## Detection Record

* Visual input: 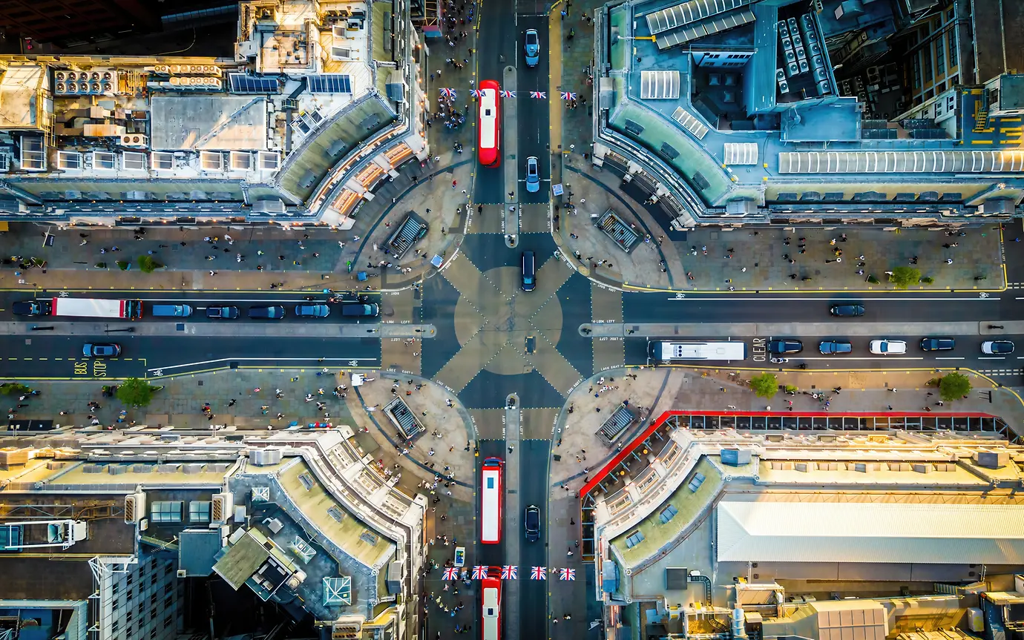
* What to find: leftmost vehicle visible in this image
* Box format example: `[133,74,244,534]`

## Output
[16,300,53,317]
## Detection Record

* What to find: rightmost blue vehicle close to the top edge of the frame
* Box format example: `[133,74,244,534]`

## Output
[523,32,539,67]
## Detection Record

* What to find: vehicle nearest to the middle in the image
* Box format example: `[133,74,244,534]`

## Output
[519,252,537,290]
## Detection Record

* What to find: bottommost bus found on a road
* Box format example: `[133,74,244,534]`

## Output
[479,568,503,640]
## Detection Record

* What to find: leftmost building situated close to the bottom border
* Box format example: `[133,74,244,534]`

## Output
[0,425,426,640]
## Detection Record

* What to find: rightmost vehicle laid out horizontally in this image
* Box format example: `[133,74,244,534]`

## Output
[977,339,1012,355]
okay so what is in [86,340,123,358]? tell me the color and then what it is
blue car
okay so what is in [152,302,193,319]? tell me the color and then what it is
blue vehicle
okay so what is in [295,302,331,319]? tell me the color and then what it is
blue car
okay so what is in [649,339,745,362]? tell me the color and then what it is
white bus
